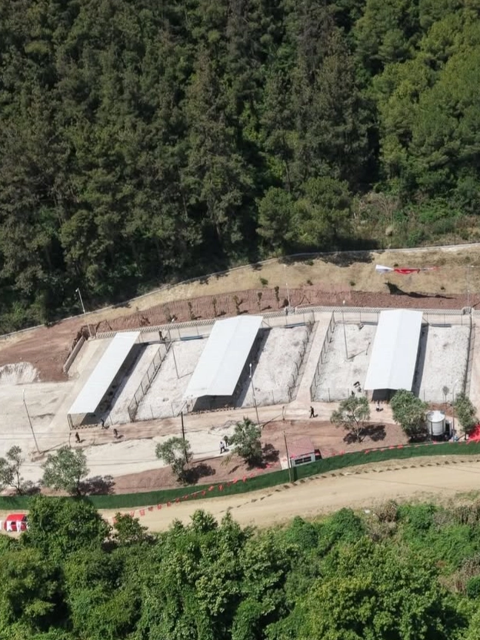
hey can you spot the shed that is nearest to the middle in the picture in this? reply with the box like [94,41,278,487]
[182,314,263,417]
